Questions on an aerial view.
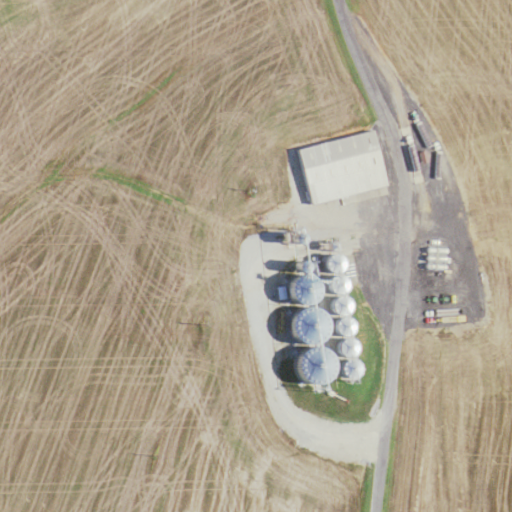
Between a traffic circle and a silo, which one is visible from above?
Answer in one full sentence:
Of the two, only a silo appears.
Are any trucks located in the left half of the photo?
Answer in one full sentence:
No, there's no truck to be seen in the left half of the photo.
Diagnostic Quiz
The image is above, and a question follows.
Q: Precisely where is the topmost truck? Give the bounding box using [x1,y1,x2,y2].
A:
[410,110,434,150]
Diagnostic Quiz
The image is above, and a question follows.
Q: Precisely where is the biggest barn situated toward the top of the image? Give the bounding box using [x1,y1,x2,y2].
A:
[297,131,386,205]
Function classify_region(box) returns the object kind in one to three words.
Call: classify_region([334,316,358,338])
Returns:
silo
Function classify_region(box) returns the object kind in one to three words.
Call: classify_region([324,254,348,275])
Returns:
silo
